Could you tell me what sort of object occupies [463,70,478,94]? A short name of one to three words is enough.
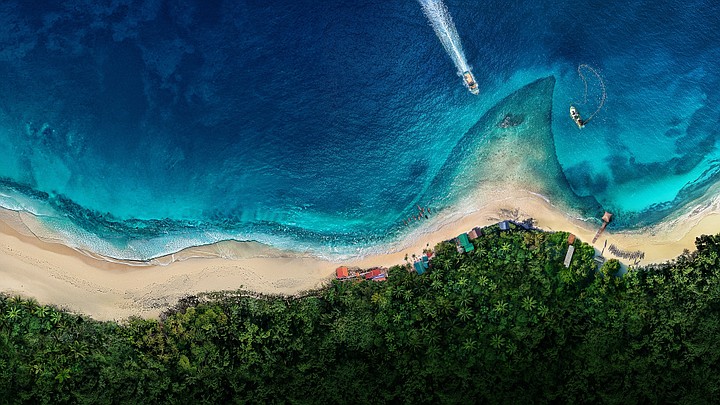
boat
